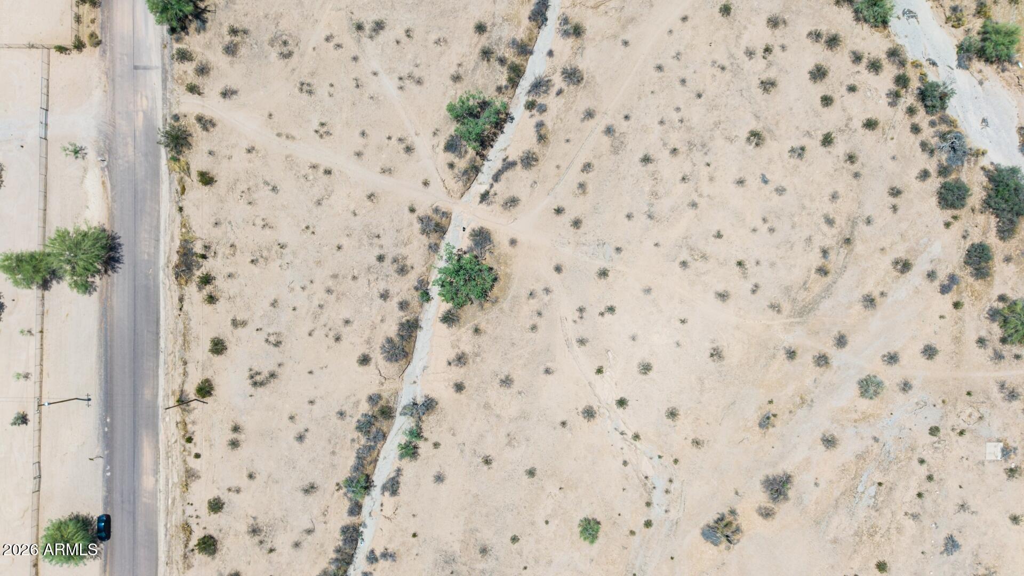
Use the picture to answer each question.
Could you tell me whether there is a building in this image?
No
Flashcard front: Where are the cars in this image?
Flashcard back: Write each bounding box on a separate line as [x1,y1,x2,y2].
[96,513,112,541]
